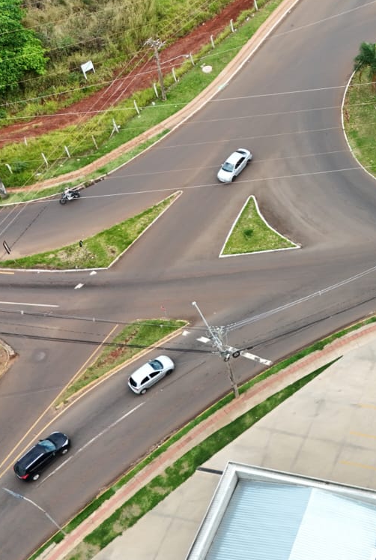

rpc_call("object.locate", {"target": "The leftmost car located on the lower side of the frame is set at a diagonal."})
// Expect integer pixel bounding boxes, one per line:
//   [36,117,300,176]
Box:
[8,431,69,483]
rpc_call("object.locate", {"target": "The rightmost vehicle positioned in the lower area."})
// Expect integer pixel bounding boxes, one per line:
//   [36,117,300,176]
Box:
[124,354,175,395]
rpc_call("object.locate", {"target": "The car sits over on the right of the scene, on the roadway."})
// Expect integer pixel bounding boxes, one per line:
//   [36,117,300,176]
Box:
[216,148,252,182]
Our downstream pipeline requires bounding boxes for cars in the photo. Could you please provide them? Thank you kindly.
[216,148,252,182]
[124,354,175,395]
[8,431,69,483]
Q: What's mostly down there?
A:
paved ground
